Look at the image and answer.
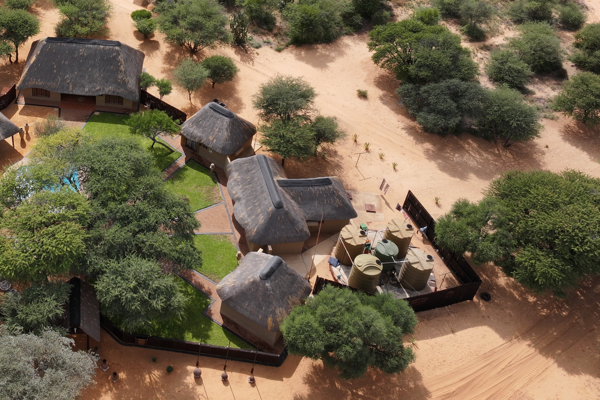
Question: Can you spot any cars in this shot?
No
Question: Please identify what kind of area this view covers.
industrial area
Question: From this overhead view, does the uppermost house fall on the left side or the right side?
left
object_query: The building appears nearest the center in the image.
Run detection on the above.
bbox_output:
[224,152,357,254]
